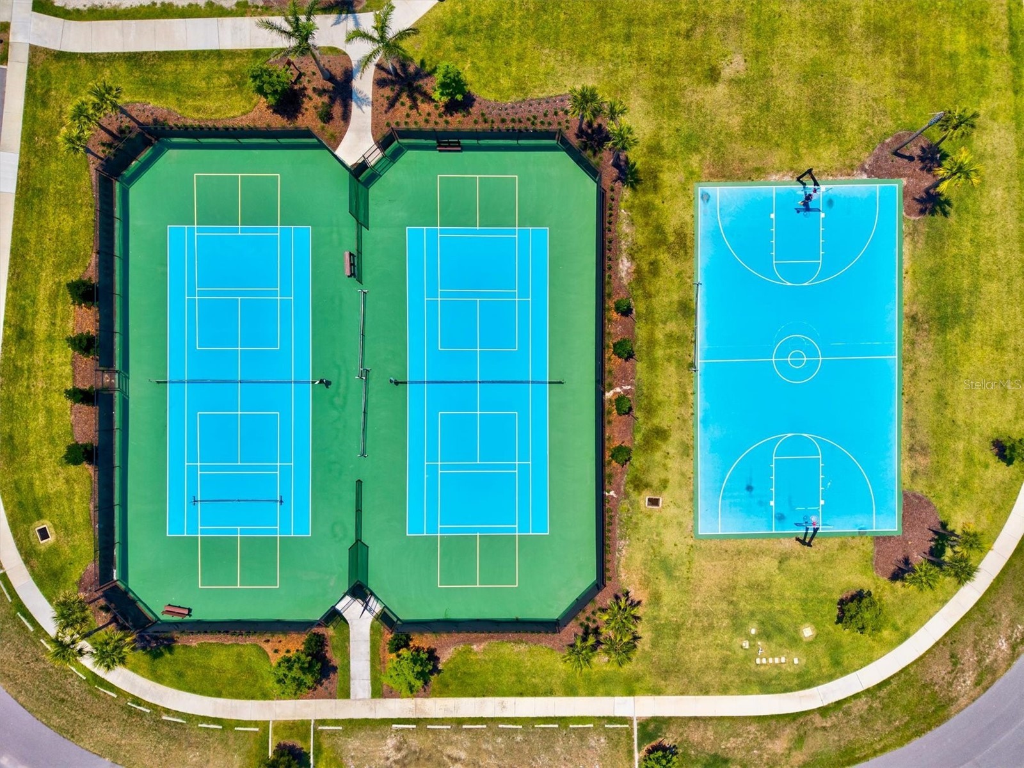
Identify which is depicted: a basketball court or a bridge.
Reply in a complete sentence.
This aerial view contains a basketball court.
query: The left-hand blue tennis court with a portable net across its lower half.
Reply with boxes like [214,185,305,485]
[115,139,358,620]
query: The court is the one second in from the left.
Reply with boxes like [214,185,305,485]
[358,139,599,621]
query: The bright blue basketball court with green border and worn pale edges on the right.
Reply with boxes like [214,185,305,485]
[695,180,903,539]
